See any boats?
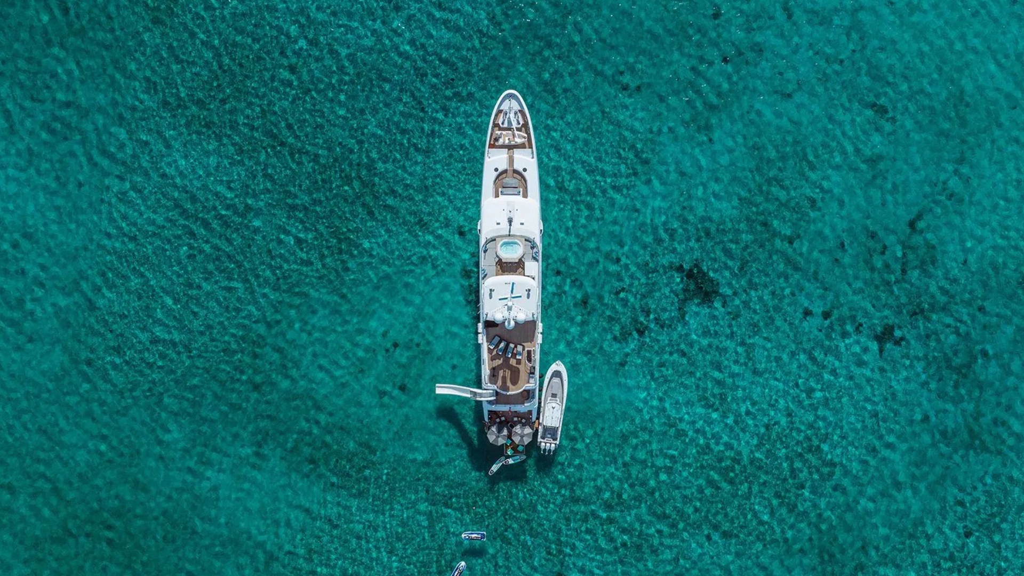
Yes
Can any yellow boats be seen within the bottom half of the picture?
No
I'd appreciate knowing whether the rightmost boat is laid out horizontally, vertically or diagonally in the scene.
vertically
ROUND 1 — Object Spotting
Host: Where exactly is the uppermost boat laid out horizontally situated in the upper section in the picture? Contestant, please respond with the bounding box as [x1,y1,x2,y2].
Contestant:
[494,131,527,145]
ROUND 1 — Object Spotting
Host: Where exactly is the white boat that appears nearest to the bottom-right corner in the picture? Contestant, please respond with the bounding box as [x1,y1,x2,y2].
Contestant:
[538,360,568,454]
